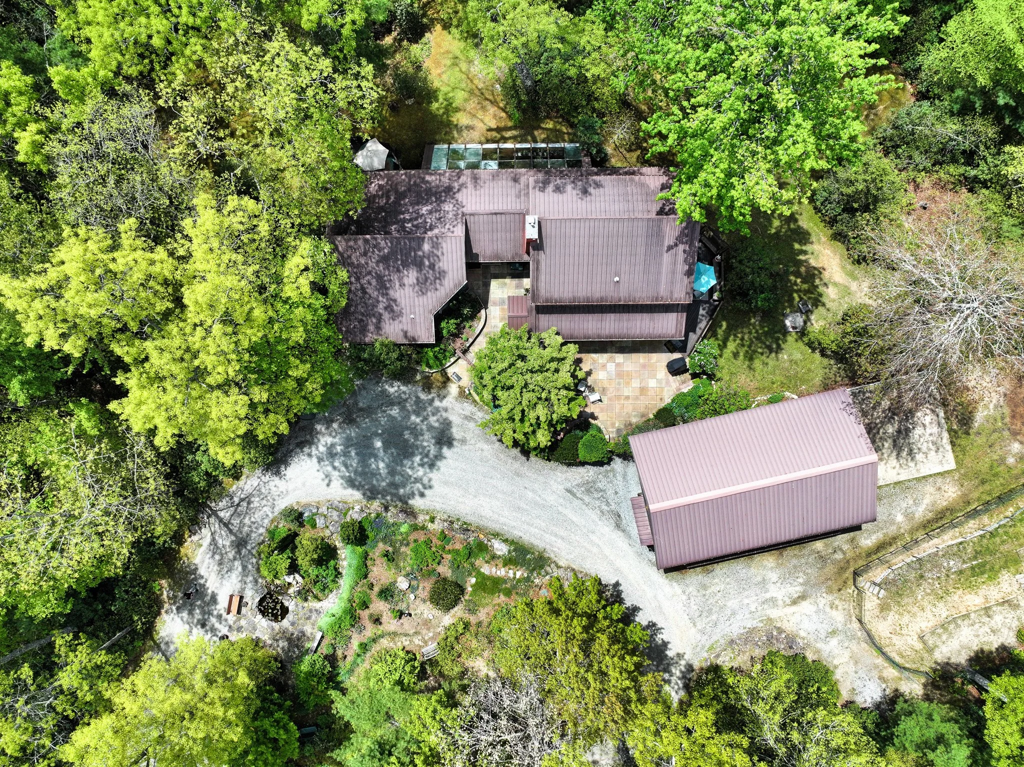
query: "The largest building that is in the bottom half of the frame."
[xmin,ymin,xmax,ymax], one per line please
[625,388,880,571]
